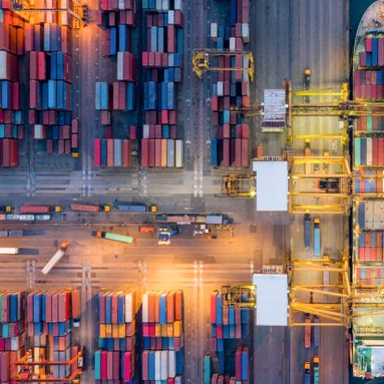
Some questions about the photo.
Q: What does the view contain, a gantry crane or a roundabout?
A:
gantry crane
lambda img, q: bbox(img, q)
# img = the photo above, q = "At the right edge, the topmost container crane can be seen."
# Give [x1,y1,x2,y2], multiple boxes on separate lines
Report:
[231,81,384,151]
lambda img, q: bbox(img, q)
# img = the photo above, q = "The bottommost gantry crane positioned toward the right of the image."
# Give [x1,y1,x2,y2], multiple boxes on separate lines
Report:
[221,245,384,325]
